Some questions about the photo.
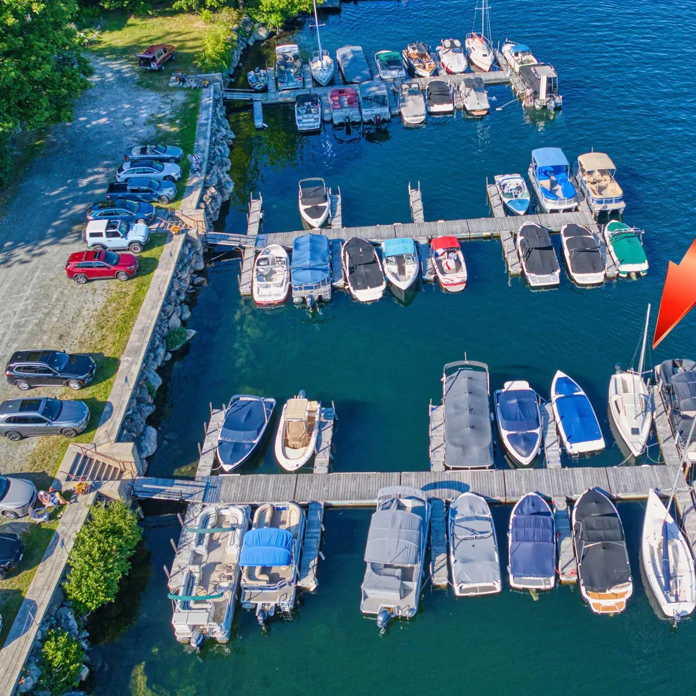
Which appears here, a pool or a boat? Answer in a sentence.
The one in the frame is a boat.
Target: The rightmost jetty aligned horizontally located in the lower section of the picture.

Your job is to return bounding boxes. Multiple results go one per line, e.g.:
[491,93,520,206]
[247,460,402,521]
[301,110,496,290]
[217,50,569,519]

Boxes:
[201,468,685,510]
